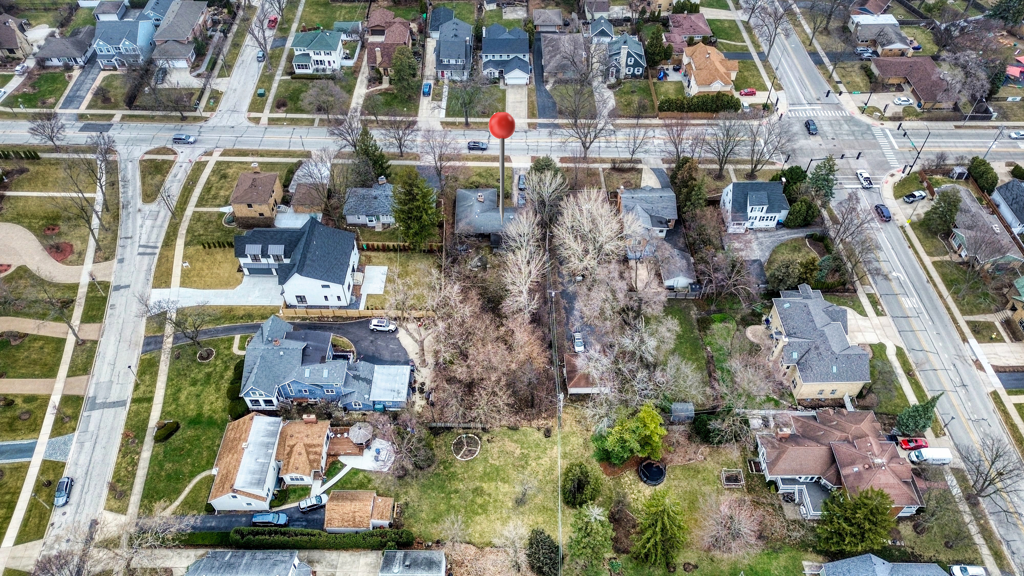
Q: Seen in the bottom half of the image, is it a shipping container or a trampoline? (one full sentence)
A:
The feature located in the bottom half of the image is a trampoline.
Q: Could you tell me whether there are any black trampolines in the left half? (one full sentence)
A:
No, there's no black trampoline to be seen in the left half.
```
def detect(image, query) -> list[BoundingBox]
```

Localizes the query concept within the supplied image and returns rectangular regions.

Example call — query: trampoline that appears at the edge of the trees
[639,455,668,486]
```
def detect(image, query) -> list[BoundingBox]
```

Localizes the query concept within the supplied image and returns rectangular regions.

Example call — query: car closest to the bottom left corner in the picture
[49,474,81,510]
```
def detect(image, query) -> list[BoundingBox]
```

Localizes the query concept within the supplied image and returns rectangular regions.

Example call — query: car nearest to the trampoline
[571,328,587,353]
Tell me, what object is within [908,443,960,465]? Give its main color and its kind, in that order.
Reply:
white vehicle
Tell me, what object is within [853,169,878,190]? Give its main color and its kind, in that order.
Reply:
white truck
